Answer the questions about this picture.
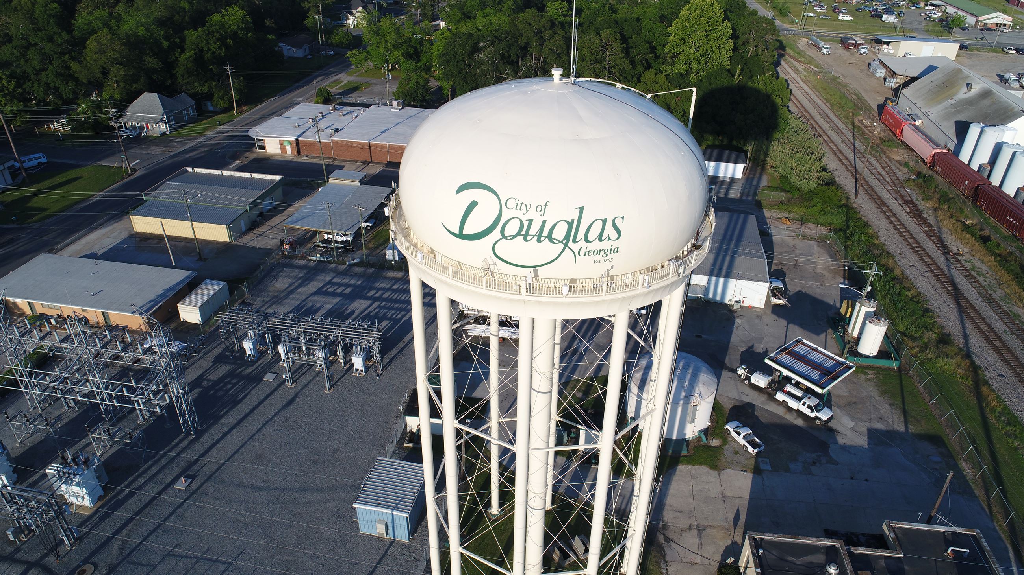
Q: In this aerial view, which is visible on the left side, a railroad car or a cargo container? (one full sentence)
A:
Visible on the left side is a cargo container.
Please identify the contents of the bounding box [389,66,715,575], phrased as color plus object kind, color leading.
white water tower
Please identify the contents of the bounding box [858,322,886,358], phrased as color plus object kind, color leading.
white storage tank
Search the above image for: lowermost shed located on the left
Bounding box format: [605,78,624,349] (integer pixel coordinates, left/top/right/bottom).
[351,448,435,544]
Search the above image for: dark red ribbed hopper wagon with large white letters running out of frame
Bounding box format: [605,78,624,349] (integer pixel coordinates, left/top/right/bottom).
[974,182,1024,237]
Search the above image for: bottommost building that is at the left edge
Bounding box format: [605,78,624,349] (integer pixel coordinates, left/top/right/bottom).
[0,252,199,328]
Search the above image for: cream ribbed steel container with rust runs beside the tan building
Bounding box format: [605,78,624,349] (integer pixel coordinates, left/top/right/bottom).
[176,278,230,324]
